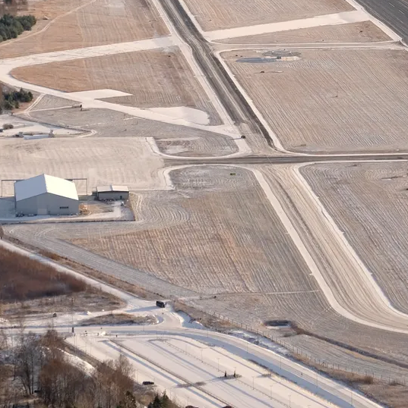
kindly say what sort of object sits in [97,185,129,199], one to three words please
building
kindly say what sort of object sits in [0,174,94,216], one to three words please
hangar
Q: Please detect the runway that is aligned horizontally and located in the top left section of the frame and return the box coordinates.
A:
[1,34,178,65]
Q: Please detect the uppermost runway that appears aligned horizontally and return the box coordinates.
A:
[200,11,371,42]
